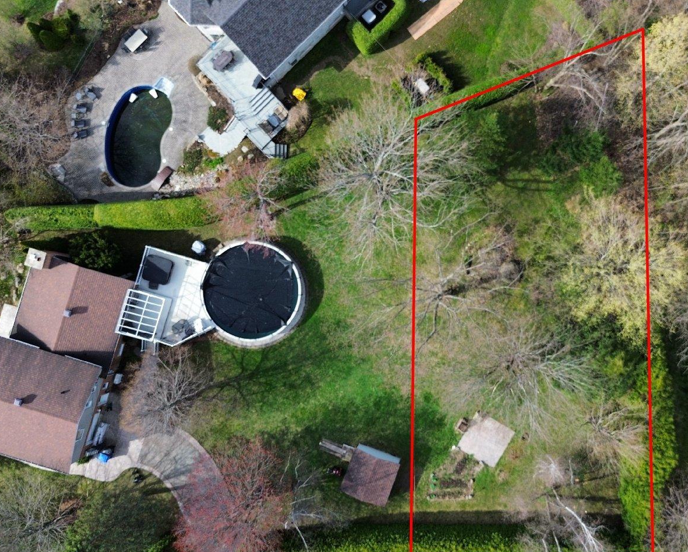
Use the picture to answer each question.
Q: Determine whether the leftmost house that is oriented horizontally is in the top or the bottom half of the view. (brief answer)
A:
top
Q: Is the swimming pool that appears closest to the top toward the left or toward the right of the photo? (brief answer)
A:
left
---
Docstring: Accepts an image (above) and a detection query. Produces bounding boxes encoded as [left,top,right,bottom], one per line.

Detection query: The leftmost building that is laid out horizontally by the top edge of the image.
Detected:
[165,0,362,87]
